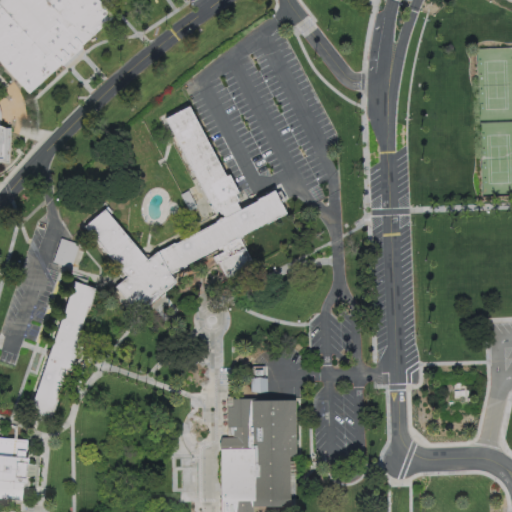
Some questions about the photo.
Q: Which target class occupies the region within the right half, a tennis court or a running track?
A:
tennis court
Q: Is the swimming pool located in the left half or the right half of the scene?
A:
left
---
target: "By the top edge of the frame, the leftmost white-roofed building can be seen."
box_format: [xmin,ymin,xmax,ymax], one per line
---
[0,0,107,94]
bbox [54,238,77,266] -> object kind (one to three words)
building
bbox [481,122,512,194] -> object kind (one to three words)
tennis court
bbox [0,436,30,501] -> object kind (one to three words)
building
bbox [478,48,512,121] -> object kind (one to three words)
tennis court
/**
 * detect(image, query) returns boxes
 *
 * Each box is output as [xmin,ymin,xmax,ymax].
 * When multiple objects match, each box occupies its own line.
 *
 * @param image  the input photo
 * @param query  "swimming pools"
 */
[142,187,178,224]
